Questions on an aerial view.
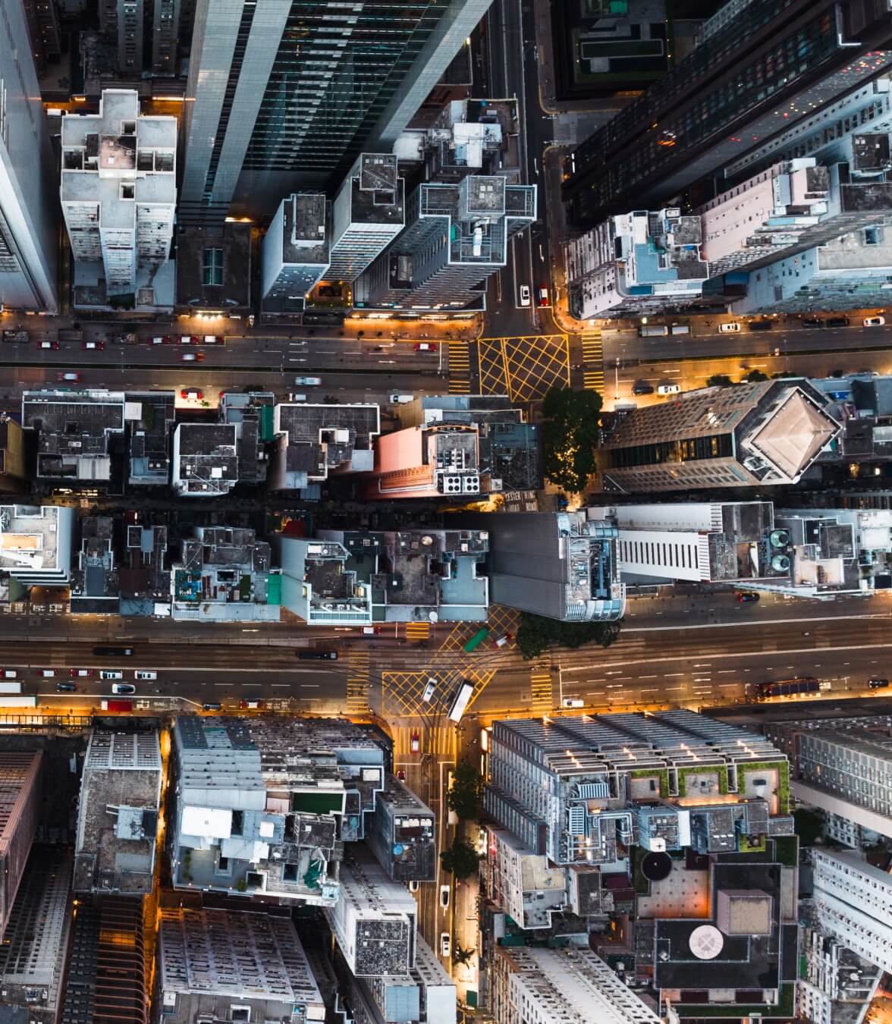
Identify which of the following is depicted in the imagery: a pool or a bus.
bus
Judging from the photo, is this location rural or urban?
urban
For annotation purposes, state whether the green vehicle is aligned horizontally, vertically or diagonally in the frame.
diagonally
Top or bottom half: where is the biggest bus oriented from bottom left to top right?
bottom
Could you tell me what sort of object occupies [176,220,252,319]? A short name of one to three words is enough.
building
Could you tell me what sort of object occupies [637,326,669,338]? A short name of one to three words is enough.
vehicle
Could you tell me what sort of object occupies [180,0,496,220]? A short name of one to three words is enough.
building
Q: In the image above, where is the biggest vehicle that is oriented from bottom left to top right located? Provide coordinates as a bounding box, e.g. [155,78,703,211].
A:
[444,677,481,725]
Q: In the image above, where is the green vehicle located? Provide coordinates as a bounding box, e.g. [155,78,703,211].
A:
[461,625,490,655]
